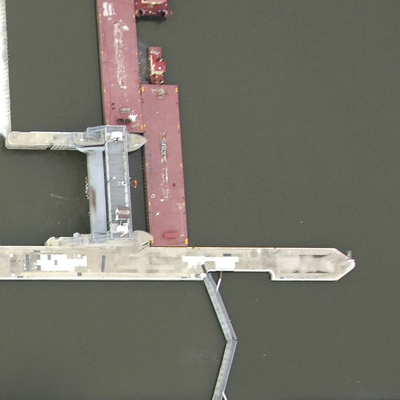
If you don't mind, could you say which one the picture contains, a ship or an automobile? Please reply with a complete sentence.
Looking from above, you can make out a ship.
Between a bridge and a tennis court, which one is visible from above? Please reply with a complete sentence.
Looking from above, you can make out a bridge.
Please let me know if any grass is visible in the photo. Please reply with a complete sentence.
No, there is no grass in the image.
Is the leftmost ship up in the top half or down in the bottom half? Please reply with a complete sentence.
The top half of the photo is where the leftmost ship is.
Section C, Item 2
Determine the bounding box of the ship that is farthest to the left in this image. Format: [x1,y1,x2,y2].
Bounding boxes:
[95,0,146,134]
